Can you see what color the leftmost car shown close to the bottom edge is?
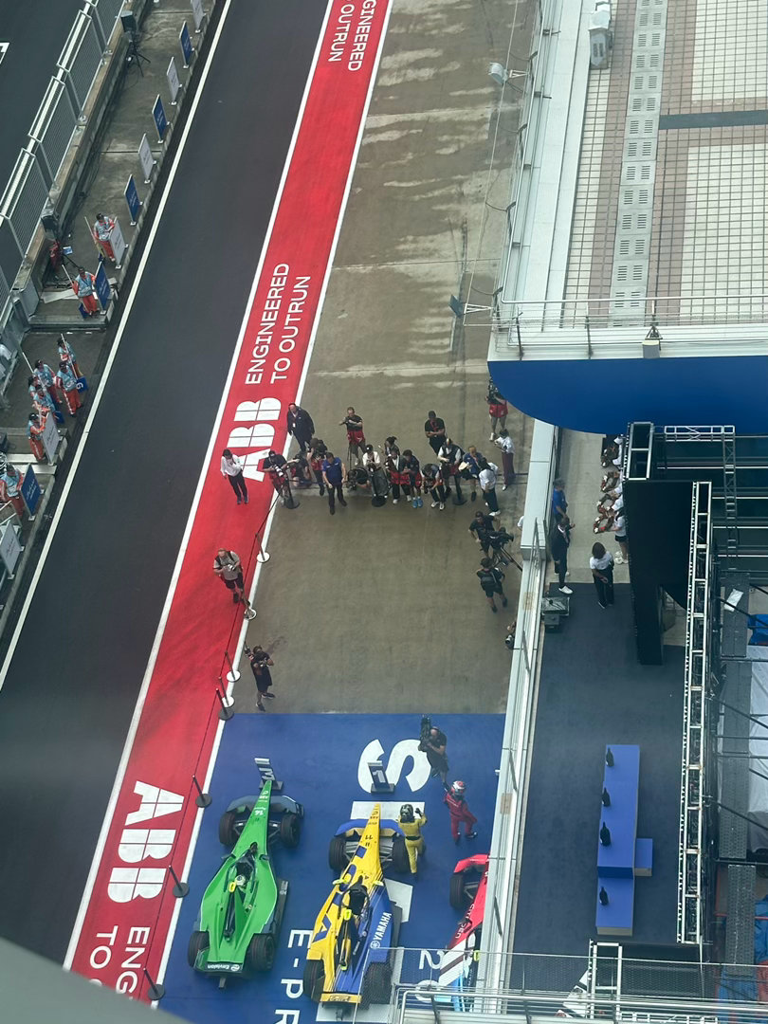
green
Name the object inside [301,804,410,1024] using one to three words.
car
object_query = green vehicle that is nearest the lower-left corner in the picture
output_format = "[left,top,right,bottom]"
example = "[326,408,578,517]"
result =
[185,779,305,995]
